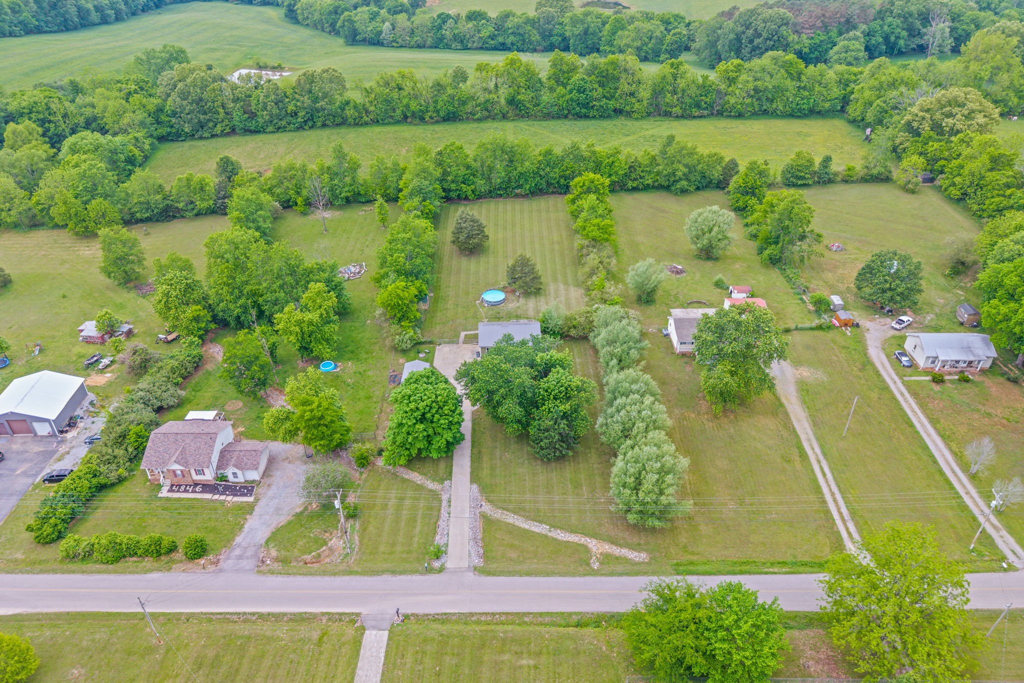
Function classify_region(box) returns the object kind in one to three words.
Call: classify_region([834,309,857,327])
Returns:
shed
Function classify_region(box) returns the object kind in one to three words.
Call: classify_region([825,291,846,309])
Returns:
vehicle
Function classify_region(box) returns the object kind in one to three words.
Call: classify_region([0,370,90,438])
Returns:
building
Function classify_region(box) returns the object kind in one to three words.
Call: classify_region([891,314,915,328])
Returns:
vehicle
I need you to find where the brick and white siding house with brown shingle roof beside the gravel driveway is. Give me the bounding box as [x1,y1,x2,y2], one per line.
[139,420,271,489]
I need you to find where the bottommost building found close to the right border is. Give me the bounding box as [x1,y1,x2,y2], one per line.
[901,332,998,374]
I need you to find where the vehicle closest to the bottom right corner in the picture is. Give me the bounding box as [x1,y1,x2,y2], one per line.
[892,350,916,367]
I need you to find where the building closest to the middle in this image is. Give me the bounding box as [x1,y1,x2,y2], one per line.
[479,316,543,347]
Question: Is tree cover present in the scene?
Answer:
Yes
